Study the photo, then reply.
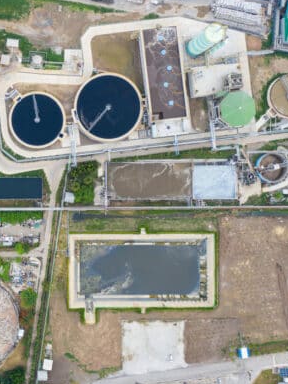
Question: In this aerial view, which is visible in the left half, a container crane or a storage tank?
storage tank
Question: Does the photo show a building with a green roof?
Yes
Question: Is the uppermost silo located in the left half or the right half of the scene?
right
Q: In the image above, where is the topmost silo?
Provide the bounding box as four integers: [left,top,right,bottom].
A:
[185,21,231,57]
